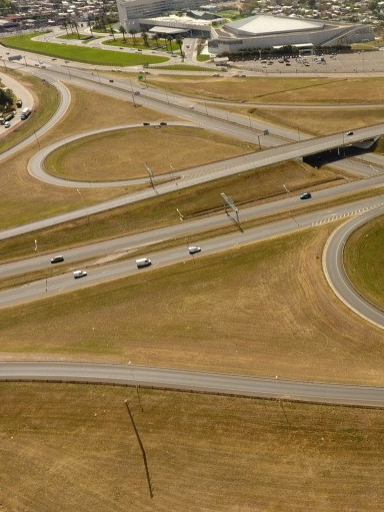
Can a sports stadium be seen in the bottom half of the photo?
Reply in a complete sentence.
No, I see no sports stadium in the bottom half of the photo.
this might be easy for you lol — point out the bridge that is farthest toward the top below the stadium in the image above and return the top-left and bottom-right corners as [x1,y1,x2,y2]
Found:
[281,124,384,163]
